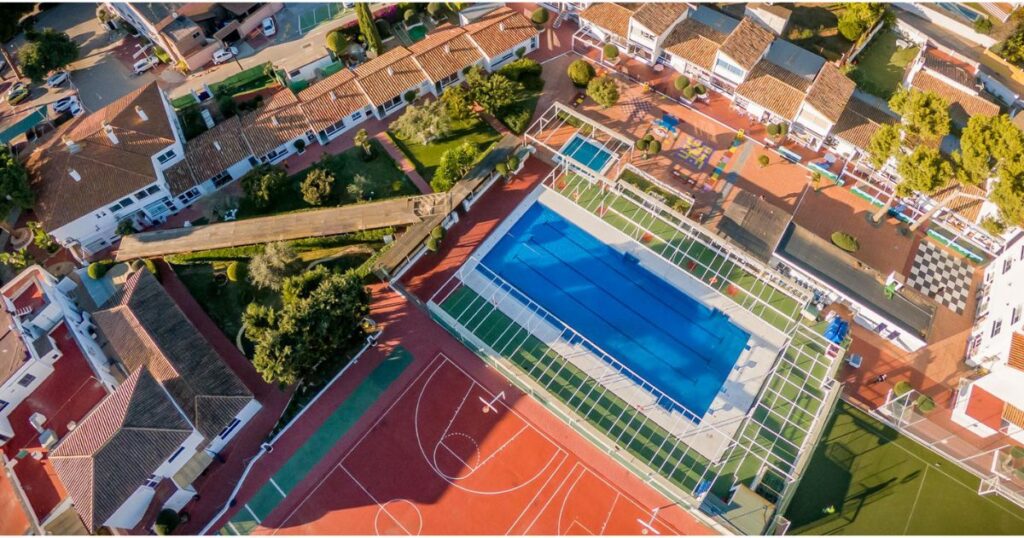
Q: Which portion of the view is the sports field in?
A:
bottom right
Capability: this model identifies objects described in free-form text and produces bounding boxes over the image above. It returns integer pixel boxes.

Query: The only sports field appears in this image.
[778,399,1024,538]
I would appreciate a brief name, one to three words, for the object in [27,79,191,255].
house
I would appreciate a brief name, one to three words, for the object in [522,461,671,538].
basketball court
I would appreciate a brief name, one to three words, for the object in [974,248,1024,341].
building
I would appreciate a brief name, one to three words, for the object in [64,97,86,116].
car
